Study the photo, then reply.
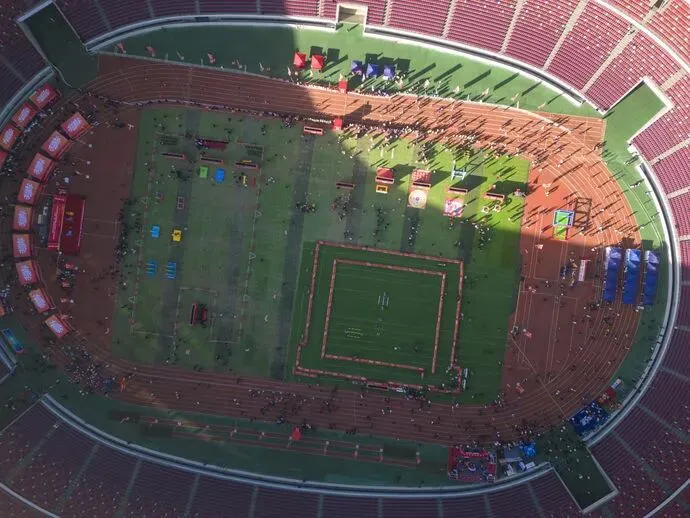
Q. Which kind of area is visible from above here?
sports ground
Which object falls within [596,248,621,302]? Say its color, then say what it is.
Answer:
blue tent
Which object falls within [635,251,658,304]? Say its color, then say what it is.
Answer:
blue tent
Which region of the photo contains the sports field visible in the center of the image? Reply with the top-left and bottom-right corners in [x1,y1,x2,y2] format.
[111,107,530,407]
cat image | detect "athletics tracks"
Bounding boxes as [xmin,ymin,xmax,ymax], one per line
[4,53,644,465]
